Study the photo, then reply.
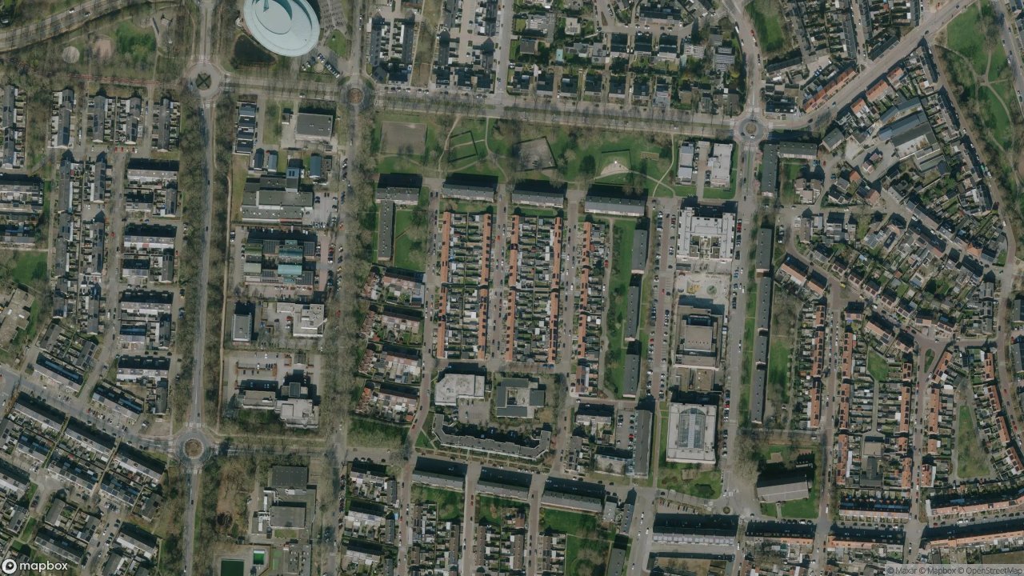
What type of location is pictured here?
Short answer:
residential area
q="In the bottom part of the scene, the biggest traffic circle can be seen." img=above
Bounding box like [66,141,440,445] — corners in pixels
[171,427,214,469]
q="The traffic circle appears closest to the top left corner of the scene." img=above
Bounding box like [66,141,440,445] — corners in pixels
[187,63,224,100]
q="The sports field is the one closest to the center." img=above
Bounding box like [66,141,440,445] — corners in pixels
[516,136,555,170]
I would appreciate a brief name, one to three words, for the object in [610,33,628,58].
house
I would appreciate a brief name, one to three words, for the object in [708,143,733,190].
building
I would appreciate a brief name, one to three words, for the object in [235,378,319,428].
house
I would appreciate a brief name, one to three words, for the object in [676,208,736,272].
building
